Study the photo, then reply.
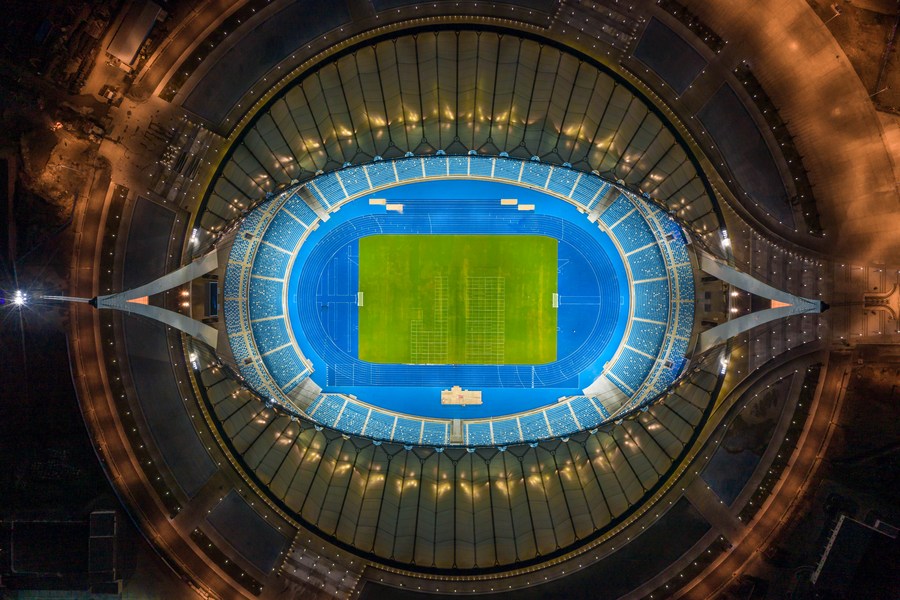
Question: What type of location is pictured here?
sports ground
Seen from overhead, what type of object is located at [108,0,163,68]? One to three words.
building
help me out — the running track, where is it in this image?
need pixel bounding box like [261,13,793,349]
[289,181,627,416]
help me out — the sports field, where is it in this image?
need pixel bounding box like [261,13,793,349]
[359,235,556,364]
